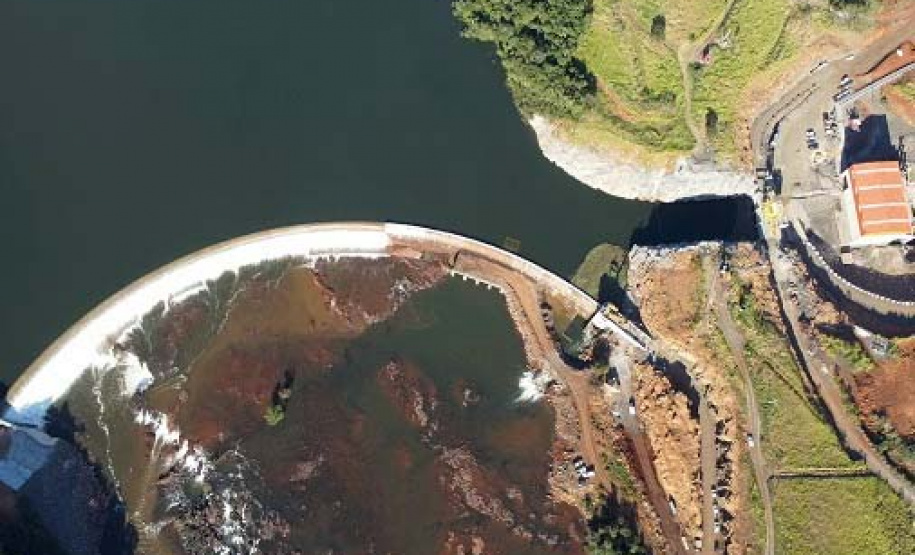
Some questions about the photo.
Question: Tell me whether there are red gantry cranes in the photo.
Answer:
No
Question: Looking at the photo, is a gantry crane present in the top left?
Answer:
No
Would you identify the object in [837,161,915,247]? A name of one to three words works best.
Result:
building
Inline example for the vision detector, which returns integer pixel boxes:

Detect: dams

[0,218,601,426]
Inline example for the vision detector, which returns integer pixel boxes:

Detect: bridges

[751,196,785,252]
